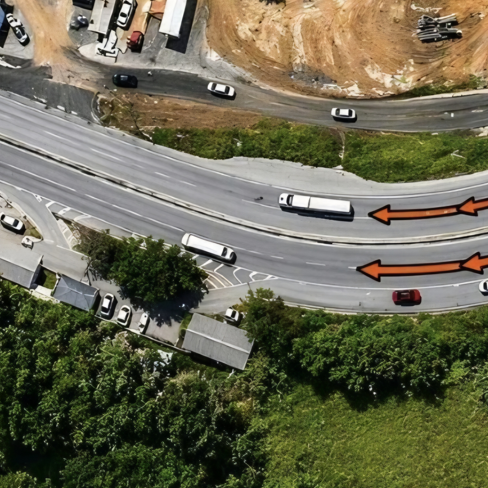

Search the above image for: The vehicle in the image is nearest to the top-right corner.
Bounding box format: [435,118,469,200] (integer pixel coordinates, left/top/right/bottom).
[330,108,358,121]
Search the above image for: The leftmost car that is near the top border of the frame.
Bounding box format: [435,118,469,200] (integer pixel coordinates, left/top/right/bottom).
[10,14,31,43]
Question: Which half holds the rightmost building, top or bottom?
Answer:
bottom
